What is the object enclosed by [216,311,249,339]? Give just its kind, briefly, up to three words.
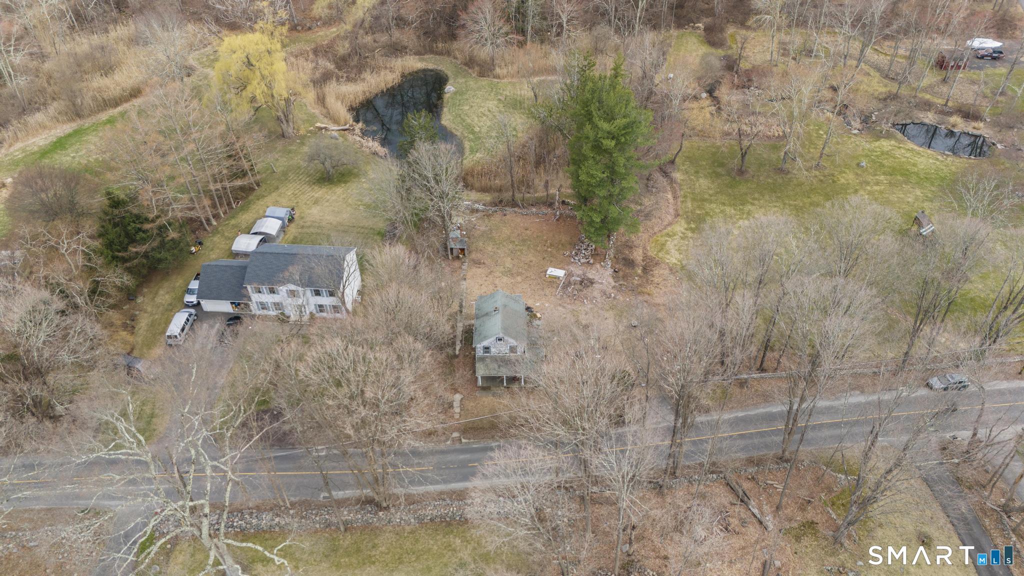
car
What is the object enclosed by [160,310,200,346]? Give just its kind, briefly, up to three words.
van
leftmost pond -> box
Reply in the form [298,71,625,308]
[359,71,467,173]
